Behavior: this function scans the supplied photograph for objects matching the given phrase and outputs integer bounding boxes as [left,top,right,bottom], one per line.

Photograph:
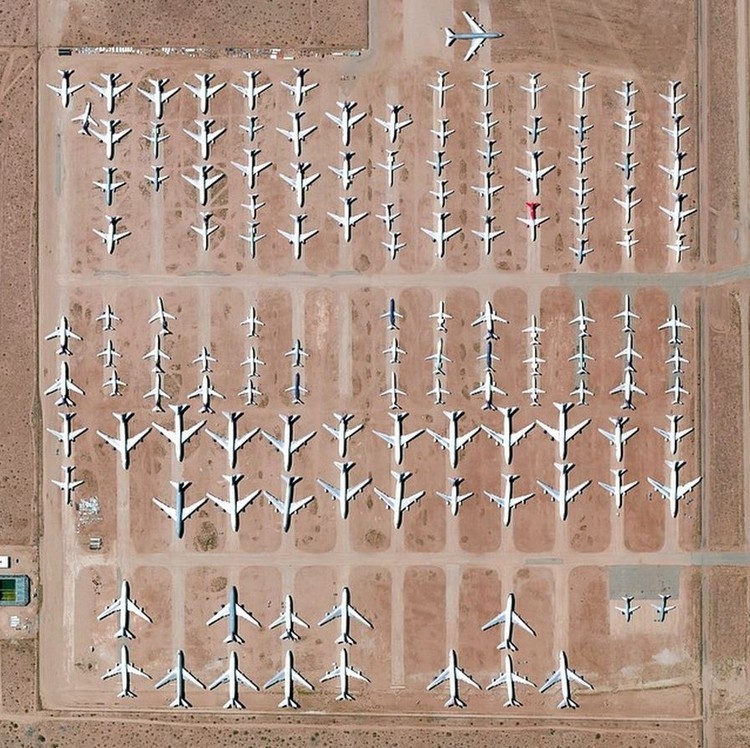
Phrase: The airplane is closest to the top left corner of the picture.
[45,69,83,105]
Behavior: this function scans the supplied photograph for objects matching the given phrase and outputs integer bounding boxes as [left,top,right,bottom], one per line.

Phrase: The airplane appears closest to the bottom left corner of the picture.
[99,645,149,697]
